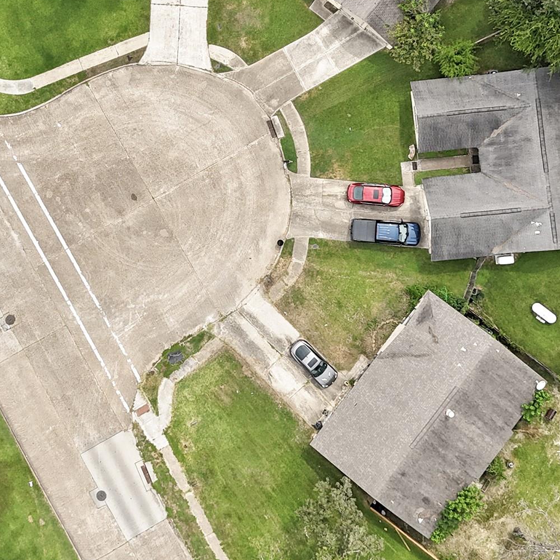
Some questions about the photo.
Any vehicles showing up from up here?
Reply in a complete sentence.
Yes, looking at the shot, I can spot a vehicle.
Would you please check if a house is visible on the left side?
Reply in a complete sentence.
No, on the left side there is no house.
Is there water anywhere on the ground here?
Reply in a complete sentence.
No, the picture contains no water.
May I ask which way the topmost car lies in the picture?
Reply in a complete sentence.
I'd say the topmost car is aligned from side to side in the picture.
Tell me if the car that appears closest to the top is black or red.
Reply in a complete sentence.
In this view, the car that appears closest to the top is red.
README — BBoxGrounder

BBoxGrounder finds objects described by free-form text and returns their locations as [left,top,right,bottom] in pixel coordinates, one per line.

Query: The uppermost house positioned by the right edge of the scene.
[409,67,560,261]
